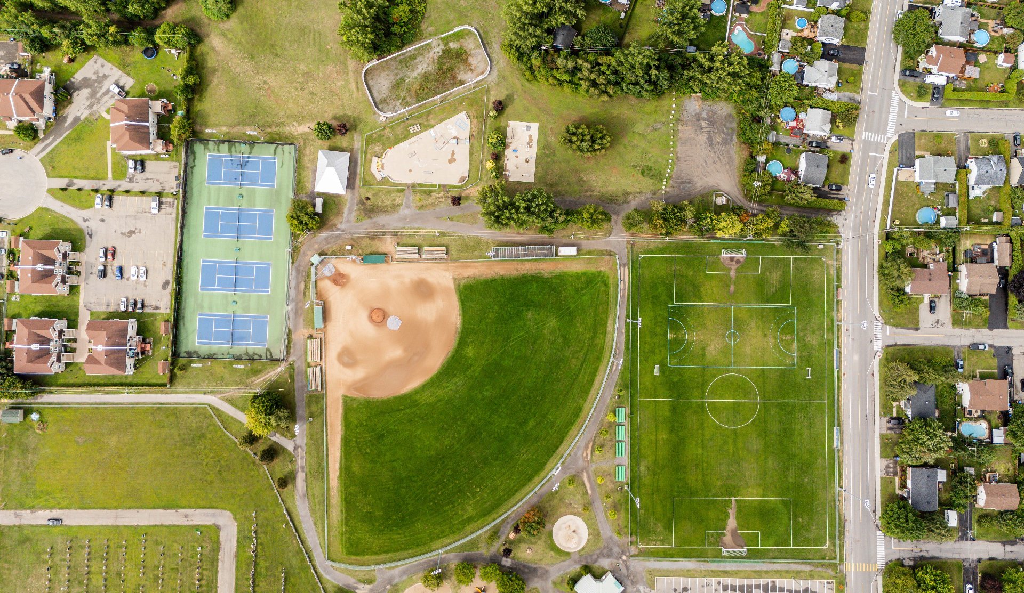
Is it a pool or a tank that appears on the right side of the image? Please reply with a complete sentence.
There is a pool on the right side of the image.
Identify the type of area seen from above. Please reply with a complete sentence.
What you see here is a sports ground.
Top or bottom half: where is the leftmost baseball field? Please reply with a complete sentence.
The leftmost baseball field is in the bottom half of the image.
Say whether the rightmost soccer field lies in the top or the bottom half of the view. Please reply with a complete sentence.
The rightmost soccer field is in the bottom half of the image.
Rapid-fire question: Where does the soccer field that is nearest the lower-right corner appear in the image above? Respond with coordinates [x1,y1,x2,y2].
[634,250,832,552]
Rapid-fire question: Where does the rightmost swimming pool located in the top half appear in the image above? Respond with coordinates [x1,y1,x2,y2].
[972,30,989,47]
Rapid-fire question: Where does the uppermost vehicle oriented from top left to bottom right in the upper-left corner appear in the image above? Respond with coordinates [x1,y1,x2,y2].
[110,84,127,97]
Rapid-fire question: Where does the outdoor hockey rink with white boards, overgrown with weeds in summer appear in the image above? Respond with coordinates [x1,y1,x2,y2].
[361,25,492,117]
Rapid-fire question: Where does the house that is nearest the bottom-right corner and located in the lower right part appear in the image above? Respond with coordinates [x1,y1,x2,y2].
[979,483,1024,511]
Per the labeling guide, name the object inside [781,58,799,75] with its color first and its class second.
blue swimming pool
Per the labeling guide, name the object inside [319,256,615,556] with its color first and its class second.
green baseball field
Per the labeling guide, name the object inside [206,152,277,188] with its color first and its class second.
blue tennis court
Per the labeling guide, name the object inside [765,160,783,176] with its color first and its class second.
blue swimming pool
